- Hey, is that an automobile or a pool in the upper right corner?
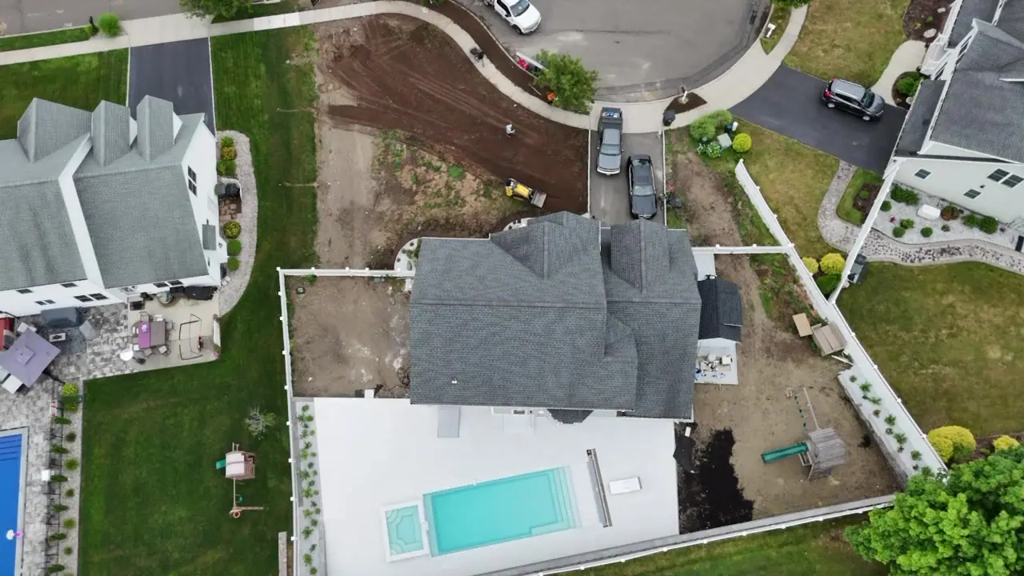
automobile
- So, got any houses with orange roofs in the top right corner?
No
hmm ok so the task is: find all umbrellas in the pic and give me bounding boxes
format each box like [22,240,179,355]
[0,329,64,387]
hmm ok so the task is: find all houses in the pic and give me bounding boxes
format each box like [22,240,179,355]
[0,92,227,317]
[890,0,1024,255]
[409,211,702,422]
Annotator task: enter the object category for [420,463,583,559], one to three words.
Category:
swimming pool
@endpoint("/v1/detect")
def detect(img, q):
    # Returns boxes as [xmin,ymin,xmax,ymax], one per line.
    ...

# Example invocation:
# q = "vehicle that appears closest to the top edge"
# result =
[496,0,543,35]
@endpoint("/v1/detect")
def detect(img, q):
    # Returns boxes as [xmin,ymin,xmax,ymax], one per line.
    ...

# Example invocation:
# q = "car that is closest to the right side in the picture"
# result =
[823,80,882,121]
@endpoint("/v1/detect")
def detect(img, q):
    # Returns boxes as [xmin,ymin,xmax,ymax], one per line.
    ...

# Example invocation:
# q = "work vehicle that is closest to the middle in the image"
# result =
[512,177,547,206]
